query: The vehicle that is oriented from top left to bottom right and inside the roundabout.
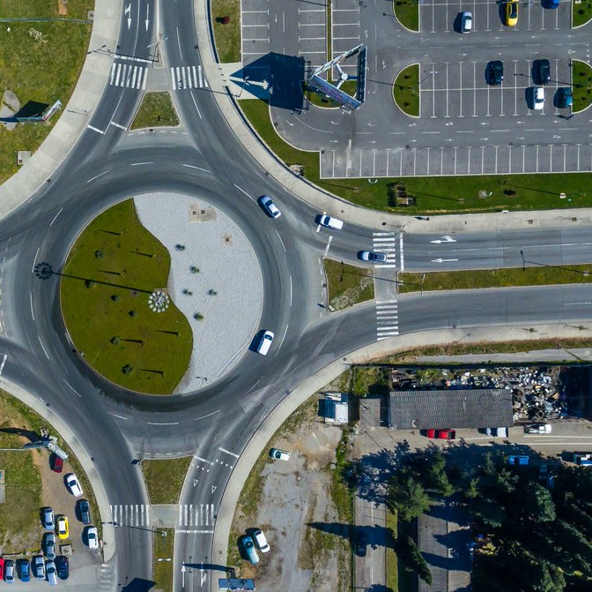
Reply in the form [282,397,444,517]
[258,195,282,220]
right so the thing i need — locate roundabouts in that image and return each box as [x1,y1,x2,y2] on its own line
[0,129,323,453]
